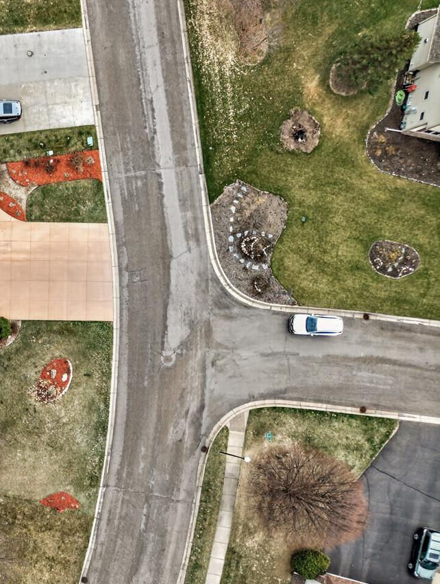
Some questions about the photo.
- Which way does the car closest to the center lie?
from side to side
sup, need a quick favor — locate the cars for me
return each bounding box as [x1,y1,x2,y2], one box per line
[409,523,440,581]
[283,311,344,338]
[0,99,23,123]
